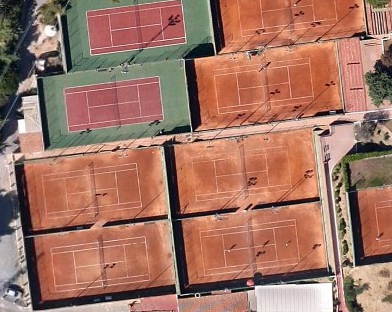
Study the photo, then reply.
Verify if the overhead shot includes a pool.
No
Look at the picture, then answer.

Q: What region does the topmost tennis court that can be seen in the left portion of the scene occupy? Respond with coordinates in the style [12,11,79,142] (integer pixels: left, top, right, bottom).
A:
[62,0,214,74]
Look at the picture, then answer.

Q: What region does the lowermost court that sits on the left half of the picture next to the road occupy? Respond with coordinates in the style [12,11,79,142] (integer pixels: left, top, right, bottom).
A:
[25,220,178,310]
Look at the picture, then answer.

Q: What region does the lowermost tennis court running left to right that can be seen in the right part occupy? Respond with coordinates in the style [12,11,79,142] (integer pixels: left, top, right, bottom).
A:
[174,201,329,293]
